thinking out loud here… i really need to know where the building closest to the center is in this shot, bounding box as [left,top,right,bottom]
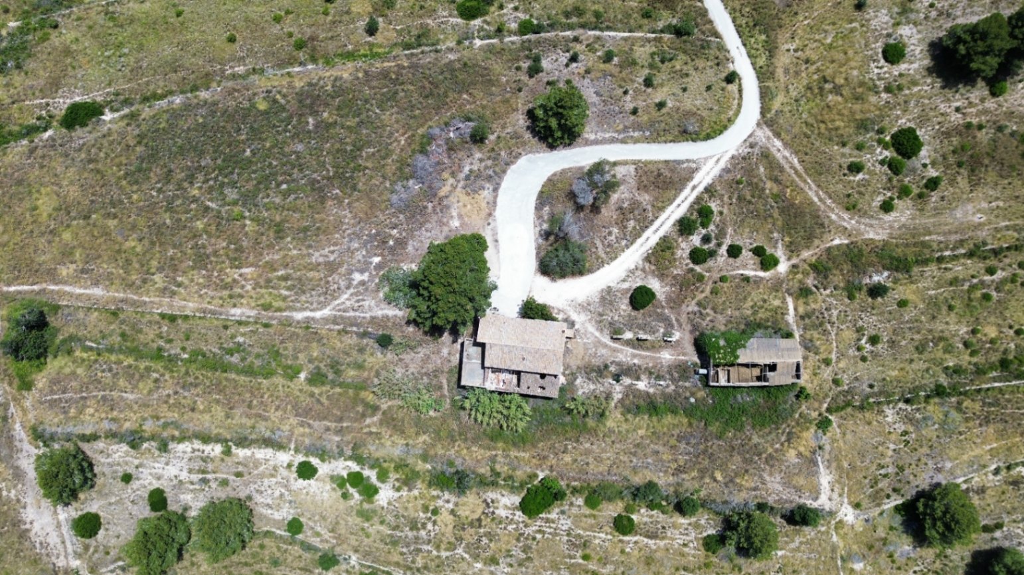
[461,318,574,399]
